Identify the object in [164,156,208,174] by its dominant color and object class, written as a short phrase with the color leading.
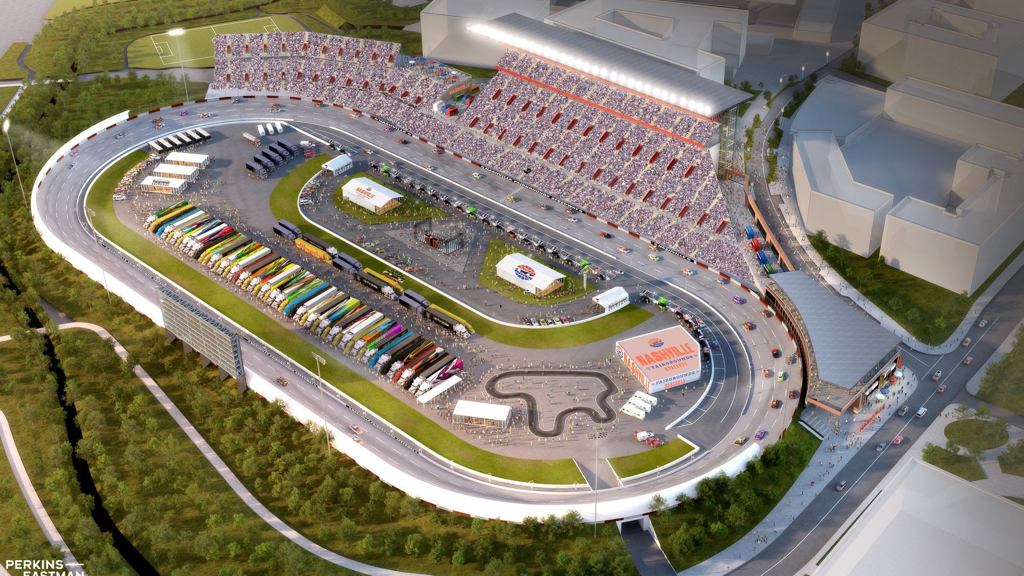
white tent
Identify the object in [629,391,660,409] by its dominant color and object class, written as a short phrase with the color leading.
white camper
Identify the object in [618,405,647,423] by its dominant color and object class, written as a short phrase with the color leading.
white camper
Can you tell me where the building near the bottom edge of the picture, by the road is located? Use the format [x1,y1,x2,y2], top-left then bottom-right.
[808,455,1024,576]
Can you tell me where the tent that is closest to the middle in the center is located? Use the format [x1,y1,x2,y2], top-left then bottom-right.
[494,251,566,297]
